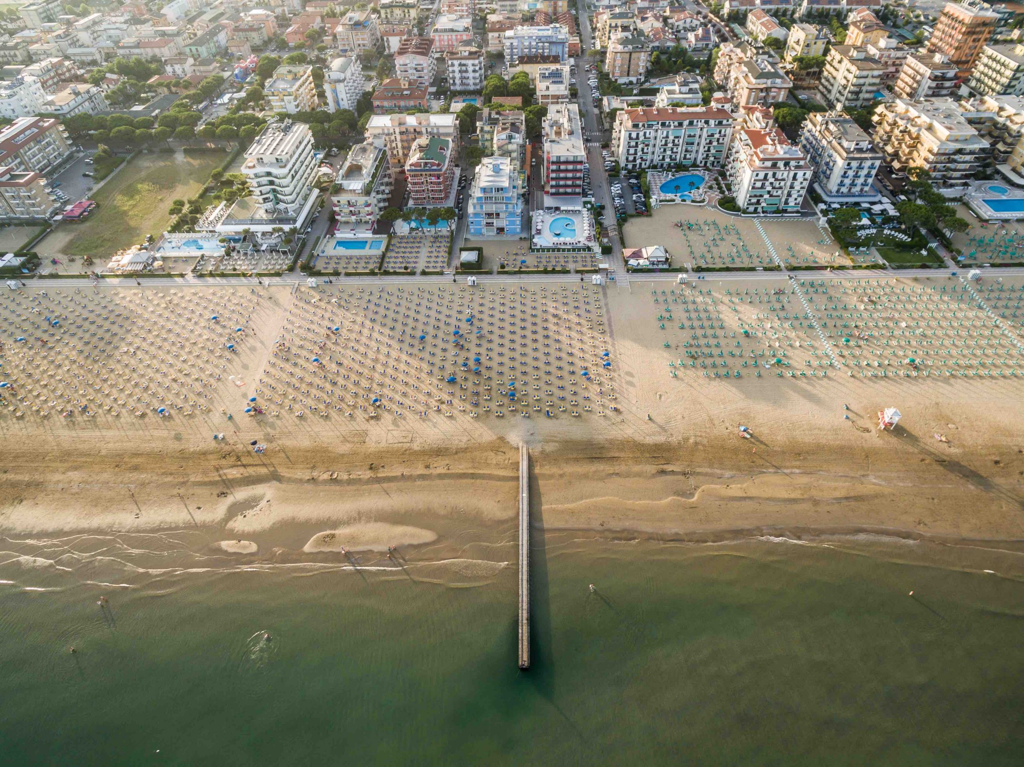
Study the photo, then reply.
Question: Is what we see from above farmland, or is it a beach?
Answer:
beach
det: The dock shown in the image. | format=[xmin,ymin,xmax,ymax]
[517,440,531,670]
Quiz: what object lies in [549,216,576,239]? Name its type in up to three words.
swimming pool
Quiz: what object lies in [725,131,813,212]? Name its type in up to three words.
building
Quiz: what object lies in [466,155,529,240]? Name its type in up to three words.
building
